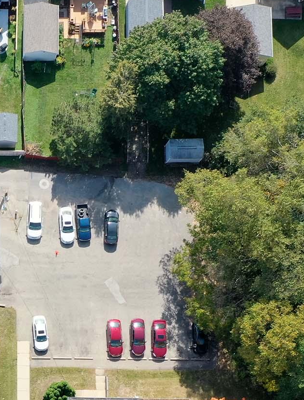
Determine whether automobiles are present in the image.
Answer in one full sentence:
Yes, I can see an automobile in this picture.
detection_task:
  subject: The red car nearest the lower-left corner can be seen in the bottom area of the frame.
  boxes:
[105,318,125,358]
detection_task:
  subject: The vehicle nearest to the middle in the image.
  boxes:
[102,208,120,246]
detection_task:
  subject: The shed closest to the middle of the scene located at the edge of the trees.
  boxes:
[161,139,205,168]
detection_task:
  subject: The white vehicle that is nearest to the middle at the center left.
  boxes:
[58,207,76,245]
